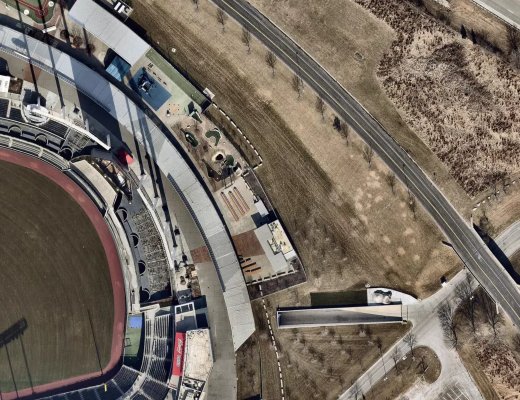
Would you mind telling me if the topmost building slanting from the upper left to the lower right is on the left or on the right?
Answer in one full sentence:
The topmost building slanting from the upper left to the lower right appears in the left half of the scene.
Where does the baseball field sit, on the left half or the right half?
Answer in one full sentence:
You can find the baseball field on the left side of the picture.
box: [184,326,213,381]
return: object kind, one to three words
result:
building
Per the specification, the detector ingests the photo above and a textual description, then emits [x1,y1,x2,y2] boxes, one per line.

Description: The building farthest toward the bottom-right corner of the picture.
[254,220,297,271]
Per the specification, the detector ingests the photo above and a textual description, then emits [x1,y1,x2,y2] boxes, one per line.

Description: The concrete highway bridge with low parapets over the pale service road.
[441,214,512,315]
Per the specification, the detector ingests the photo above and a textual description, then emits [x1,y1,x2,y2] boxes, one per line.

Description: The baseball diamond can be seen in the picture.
[0,148,127,400]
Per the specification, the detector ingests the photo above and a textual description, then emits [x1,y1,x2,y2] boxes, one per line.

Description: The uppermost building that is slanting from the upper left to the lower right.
[69,0,151,66]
